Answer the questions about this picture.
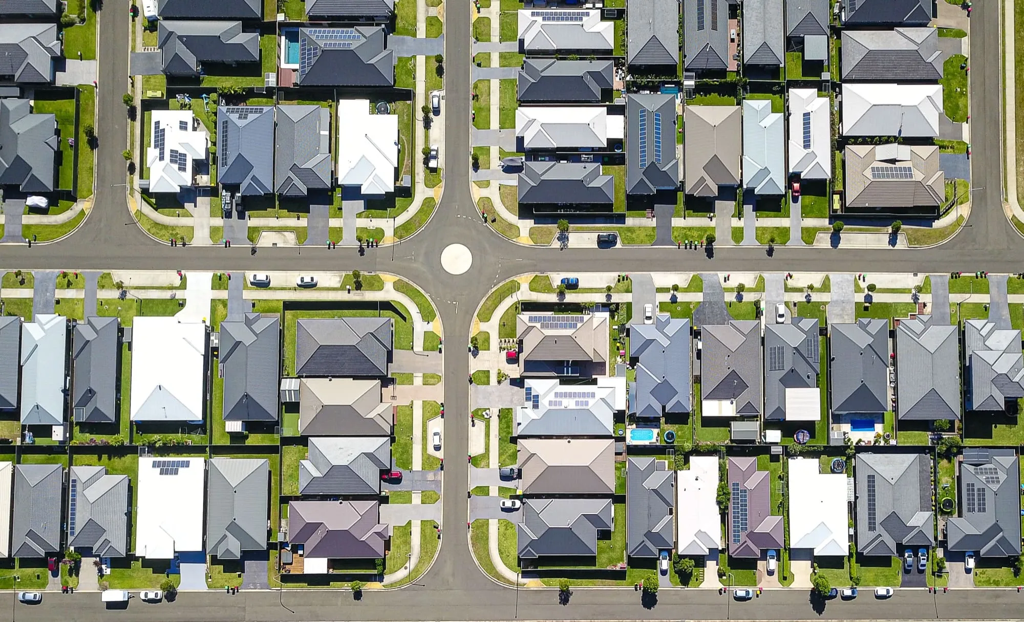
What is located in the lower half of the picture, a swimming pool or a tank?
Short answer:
swimming pool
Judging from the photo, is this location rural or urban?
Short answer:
urban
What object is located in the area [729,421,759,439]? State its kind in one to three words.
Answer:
shed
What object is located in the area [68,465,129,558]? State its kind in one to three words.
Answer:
house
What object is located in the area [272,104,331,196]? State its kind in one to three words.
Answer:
house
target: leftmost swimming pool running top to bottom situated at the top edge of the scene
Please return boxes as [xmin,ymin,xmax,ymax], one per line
[281,27,299,68]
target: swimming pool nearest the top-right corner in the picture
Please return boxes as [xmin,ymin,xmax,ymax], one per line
[656,83,680,100]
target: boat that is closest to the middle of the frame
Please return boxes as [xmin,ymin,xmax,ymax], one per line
[497,156,525,168]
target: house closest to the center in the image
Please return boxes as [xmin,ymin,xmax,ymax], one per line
[517,311,609,378]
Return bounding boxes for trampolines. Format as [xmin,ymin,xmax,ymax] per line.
[664,430,676,442]
[941,498,958,511]
[1005,400,1024,416]
[374,98,389,114]
[831,459,845,472]
[794,429,811,444]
